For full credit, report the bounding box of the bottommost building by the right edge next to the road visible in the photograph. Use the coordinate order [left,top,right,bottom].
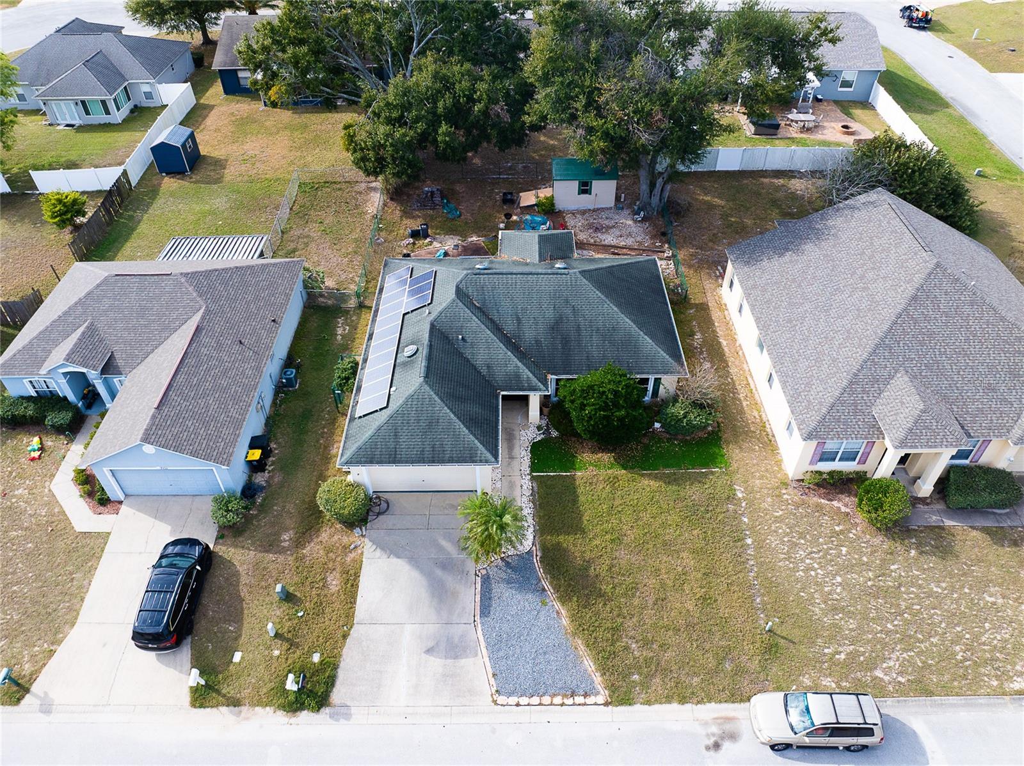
[726,190,1024,496]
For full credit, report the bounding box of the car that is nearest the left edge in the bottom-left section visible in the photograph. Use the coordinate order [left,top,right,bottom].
[137,541,215,654]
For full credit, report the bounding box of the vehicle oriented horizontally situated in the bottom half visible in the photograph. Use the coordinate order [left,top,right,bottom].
[750,690,887,754]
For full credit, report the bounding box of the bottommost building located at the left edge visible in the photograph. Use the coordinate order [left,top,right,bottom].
[0,258,305,501]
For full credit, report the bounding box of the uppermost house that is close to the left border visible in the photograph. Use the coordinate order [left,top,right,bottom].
[1,20,191,127]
